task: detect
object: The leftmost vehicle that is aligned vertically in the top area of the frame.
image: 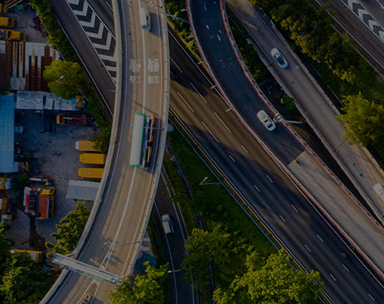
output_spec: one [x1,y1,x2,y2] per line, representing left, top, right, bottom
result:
[42,108,55,134]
